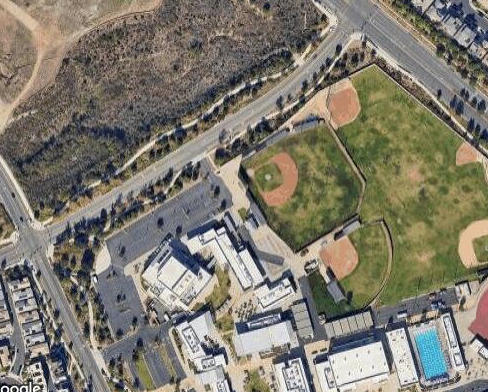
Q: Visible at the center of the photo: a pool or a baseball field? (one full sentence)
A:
There is a baseball field at the center of the photo.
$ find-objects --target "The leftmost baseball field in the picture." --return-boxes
[242,152,299,205]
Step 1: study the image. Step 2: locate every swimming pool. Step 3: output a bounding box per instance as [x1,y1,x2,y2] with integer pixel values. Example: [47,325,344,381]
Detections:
[408,318,458,391]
